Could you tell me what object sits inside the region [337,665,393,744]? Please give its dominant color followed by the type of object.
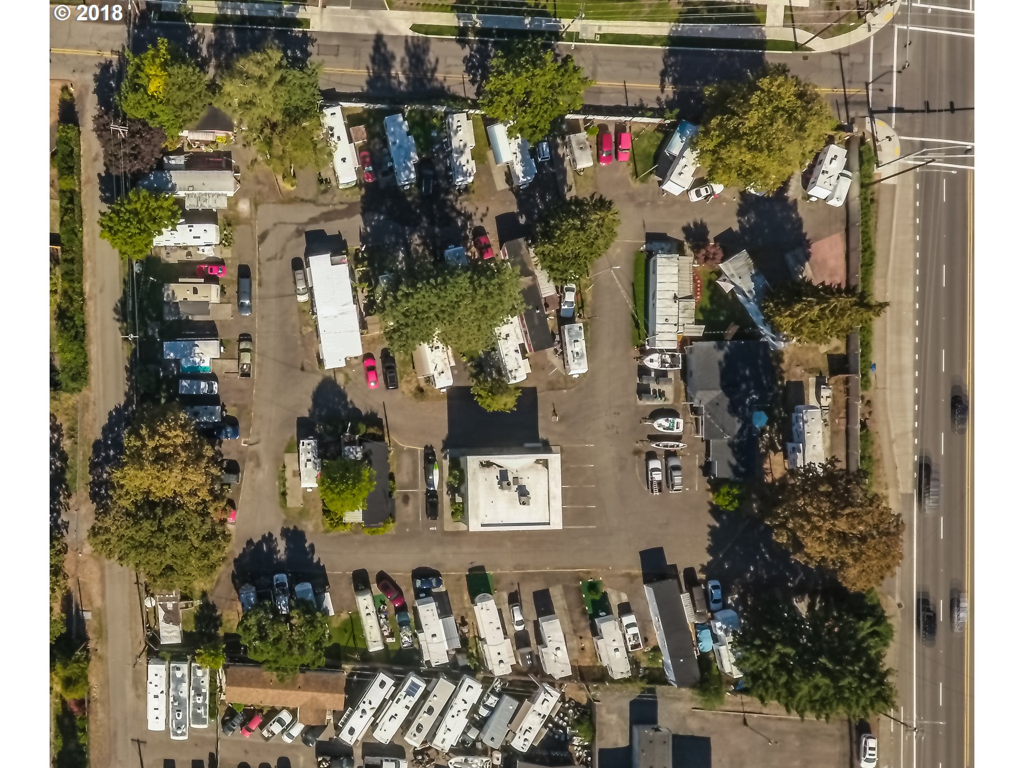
white camper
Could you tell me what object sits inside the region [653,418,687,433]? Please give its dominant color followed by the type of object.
white boat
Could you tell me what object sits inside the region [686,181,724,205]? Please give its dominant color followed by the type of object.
white car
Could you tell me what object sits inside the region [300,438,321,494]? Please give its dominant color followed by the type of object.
white trailer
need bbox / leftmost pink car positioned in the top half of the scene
[195,265,227,278]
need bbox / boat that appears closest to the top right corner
[642,352,685,370]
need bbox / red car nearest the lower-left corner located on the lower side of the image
[239,709,266,740]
